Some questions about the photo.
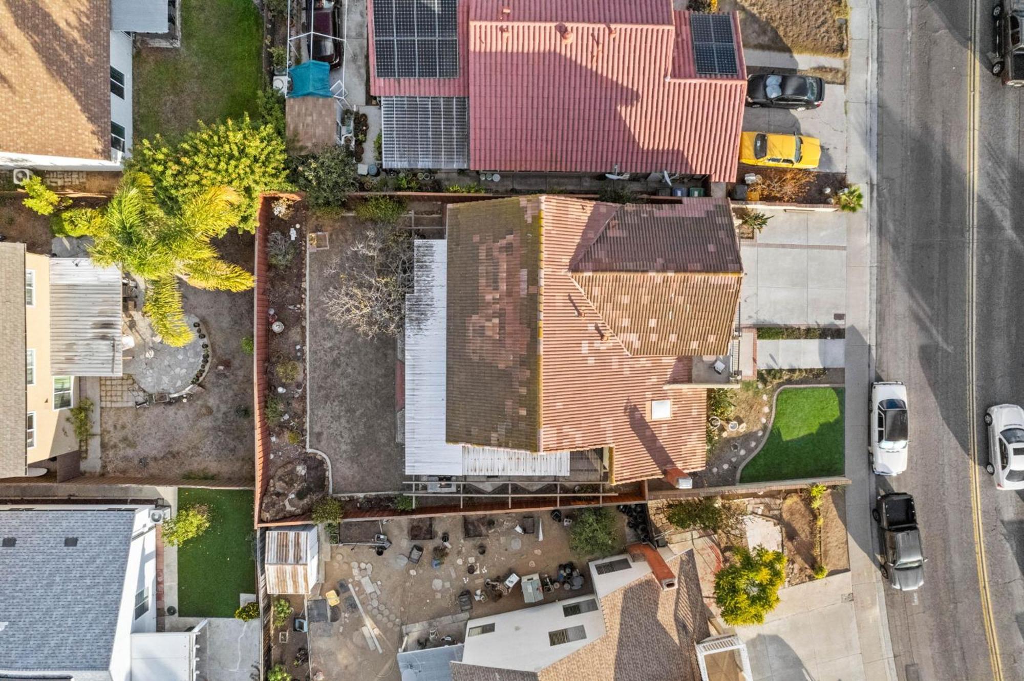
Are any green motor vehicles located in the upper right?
No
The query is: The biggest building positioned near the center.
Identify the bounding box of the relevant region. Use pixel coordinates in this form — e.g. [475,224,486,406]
[445,194,746,493]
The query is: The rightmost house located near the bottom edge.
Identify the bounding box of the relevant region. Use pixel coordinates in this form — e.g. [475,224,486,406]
[452,532,710,681]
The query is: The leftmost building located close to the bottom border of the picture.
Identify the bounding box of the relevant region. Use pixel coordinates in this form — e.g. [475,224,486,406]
[0,504,157,681]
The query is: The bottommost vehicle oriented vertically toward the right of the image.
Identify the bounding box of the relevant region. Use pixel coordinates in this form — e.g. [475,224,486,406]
[872,489,925,589]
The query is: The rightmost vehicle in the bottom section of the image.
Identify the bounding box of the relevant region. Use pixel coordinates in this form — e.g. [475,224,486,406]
[981,401,1024,490]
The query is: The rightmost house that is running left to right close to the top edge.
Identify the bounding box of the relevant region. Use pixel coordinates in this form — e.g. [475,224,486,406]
[370,0,748,182]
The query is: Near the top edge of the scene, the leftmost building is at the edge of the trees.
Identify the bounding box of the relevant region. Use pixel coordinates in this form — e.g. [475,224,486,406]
[0,0,133,168]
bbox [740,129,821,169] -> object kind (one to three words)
car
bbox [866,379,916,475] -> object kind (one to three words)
car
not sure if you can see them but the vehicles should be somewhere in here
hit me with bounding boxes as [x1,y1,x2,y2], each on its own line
[740,129,821,169]
[981,401,1024,490]
[866,379,916,475]
[872,489,925,589]
[991,0,1024,91]
[745,69,832,113]
[305,0,344,71]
